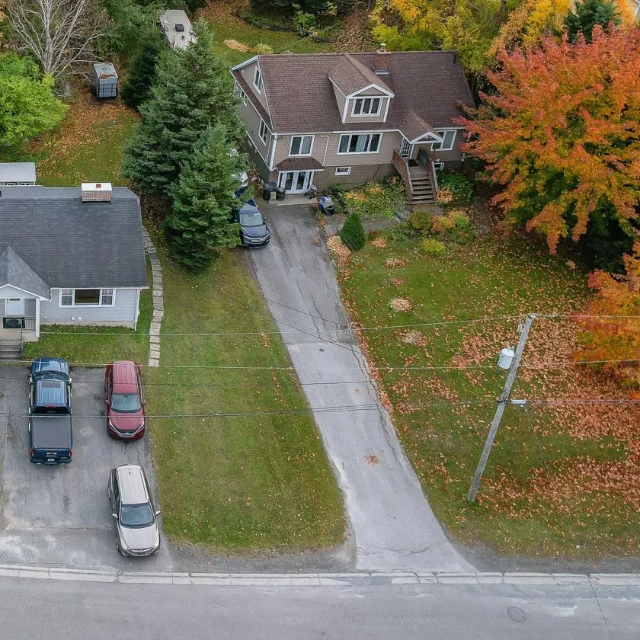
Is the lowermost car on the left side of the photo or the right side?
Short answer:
left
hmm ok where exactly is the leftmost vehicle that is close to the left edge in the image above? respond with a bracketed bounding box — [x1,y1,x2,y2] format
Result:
[24,358,77,462]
